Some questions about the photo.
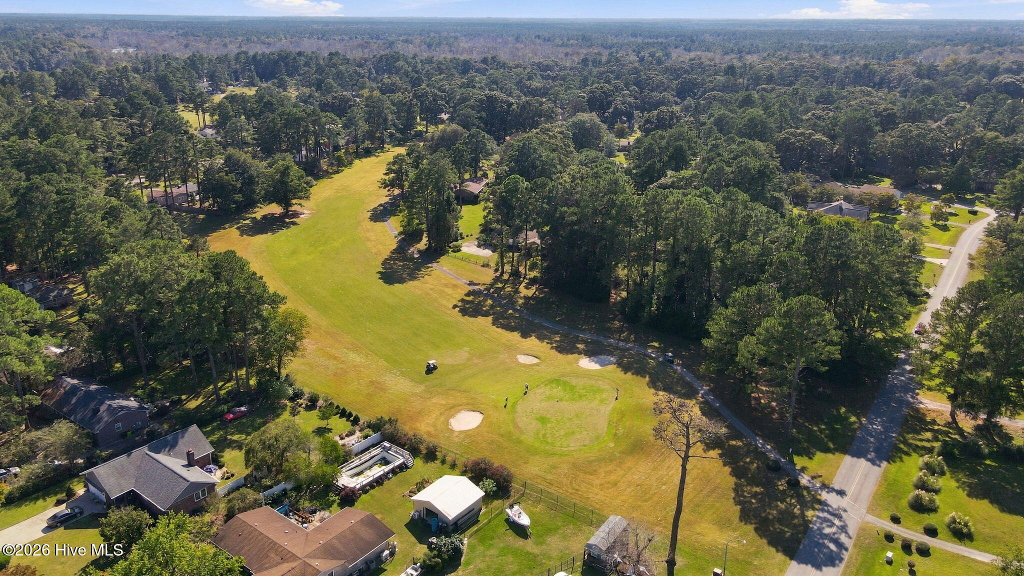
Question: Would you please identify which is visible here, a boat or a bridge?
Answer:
boat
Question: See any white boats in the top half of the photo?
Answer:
No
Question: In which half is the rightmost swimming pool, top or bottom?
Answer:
bottom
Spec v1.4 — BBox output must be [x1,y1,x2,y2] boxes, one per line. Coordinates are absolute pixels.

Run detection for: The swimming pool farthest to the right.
[329,439,412,497]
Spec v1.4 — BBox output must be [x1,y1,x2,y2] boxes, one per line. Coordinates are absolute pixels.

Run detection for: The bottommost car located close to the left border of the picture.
[44,506,85,528]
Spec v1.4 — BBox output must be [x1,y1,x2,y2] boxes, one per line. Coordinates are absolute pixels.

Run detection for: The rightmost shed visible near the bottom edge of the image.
[586,513,630,564]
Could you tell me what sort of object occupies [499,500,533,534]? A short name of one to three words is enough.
boat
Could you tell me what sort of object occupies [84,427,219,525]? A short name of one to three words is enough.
house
